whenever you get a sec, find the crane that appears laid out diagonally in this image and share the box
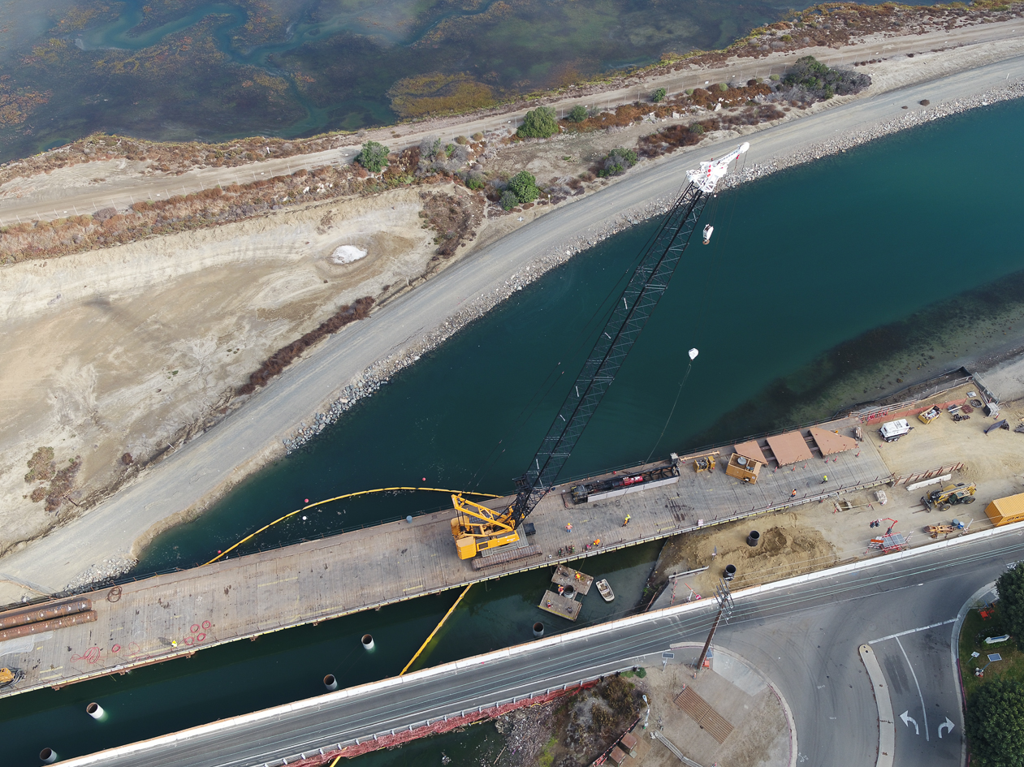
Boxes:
[450,138,752,572]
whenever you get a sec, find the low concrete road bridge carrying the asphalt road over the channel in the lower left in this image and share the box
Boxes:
[30,562,853,767]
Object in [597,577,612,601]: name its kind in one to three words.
boat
